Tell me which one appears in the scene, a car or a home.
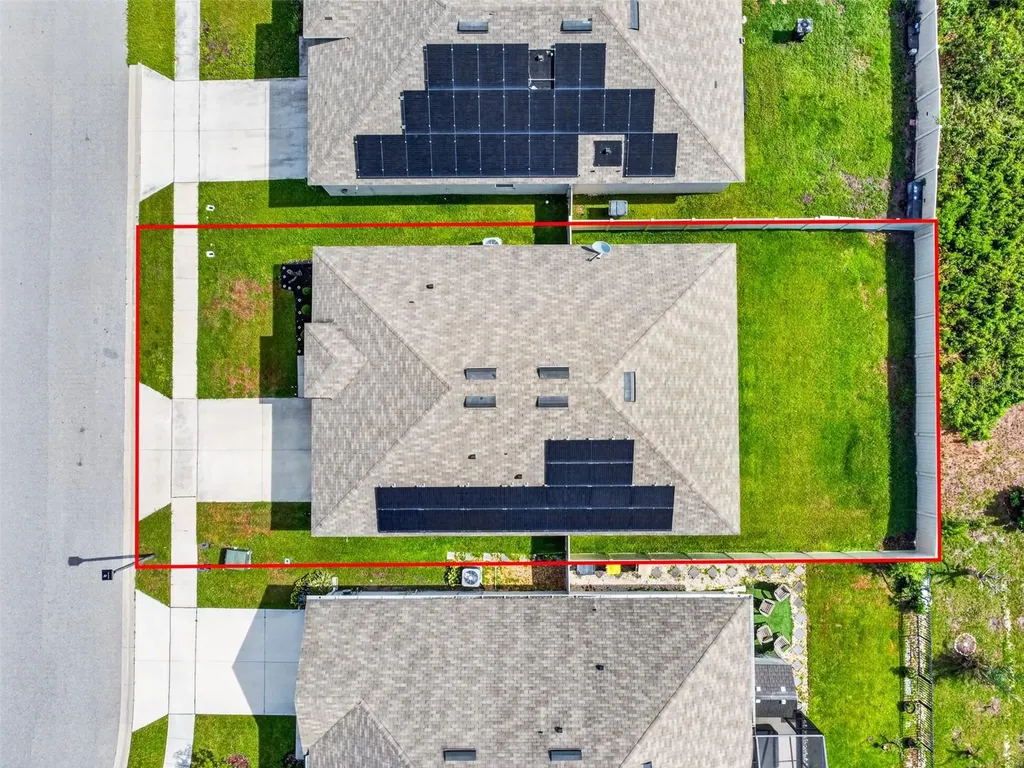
home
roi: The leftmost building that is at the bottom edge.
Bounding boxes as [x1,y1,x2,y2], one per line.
[293,582,758,768]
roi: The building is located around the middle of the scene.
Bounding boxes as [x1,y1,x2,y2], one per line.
[304,243,740,536]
